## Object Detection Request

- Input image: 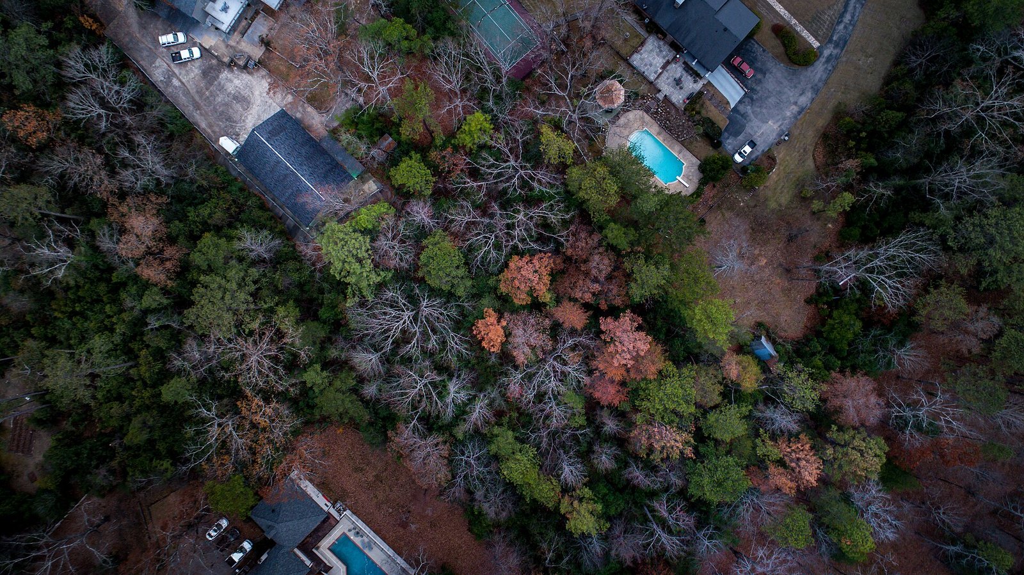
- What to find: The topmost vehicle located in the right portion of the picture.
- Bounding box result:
[729,55,754,78]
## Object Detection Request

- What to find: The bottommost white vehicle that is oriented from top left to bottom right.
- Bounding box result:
[216,135,241,157]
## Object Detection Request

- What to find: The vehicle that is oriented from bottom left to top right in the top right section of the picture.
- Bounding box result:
[732,138,758,165]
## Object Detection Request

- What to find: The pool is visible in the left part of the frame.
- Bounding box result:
[312,514,418,575]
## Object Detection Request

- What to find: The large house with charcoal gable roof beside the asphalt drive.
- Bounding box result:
[628,0,760,78]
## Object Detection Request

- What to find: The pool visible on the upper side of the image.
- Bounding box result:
[607,110,704,193]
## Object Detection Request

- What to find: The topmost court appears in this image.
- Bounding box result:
[457,0,539,65]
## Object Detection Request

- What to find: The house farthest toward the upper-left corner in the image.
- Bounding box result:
[164,0,259,38]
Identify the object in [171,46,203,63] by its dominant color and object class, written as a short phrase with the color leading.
white vehicle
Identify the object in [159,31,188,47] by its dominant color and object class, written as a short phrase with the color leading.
white car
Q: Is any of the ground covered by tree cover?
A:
Yes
